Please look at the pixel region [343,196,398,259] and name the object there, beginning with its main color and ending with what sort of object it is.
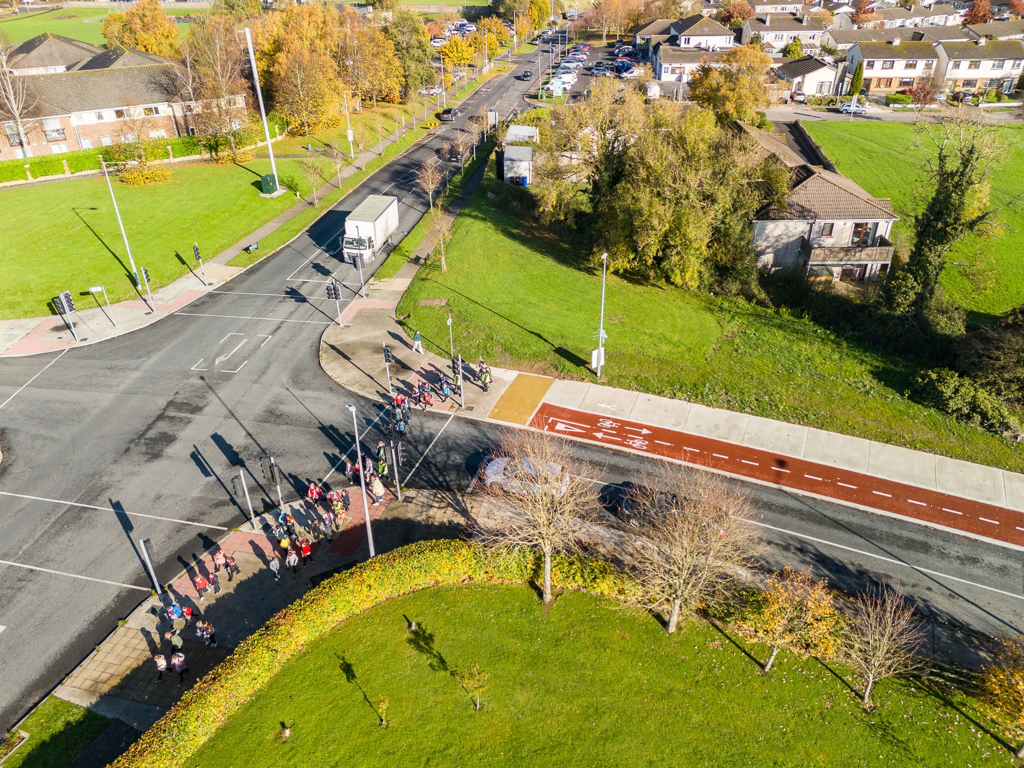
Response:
white truck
